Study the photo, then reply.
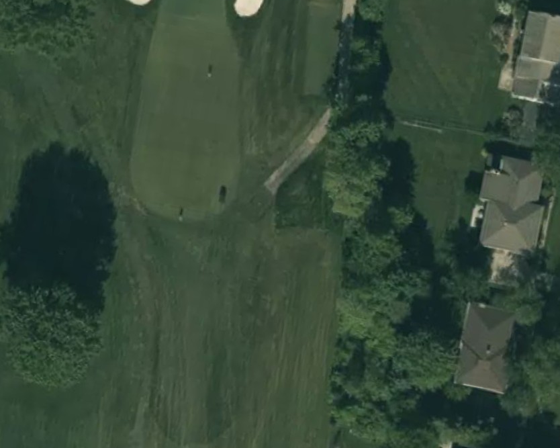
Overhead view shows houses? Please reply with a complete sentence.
Yes, looking at the shot, I can spot a house.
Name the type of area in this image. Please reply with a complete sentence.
This looks like a golf course.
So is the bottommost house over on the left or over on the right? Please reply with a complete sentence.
It is on the right.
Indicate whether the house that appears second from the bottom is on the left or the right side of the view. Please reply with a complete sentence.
It is on the right.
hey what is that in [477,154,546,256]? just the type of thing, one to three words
house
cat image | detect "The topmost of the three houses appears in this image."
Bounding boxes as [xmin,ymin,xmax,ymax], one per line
[509,9,560,106]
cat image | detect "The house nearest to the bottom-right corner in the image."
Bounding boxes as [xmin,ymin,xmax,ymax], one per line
[454,301,515,394]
